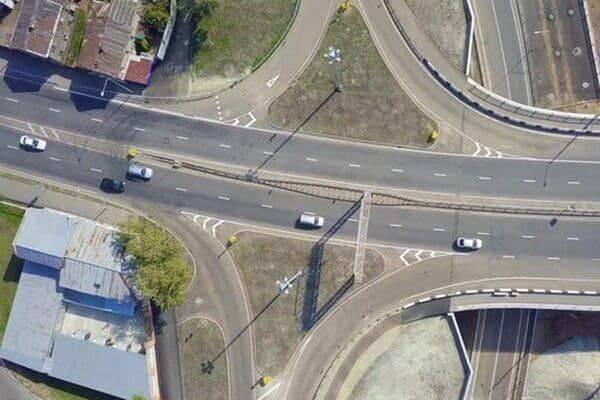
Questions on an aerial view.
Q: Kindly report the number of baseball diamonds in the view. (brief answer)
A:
none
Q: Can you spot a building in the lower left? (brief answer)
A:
Yes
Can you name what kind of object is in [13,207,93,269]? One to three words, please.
building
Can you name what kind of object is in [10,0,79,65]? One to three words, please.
house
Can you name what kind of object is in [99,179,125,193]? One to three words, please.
car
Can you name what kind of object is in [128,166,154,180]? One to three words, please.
vehicle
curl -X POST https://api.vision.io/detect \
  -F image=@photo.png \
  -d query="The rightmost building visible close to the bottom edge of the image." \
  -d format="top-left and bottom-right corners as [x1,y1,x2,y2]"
[47,330,157,400]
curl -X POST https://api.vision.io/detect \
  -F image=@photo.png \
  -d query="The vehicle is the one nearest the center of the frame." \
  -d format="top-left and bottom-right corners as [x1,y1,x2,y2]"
[299,214,325,227]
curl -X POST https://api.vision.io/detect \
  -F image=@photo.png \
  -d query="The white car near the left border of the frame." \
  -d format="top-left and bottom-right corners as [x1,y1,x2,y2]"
[20,136,47,151]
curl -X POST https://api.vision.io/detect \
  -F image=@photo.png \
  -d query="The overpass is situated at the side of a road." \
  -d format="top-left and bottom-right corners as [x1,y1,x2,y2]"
[449,79,600,315]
